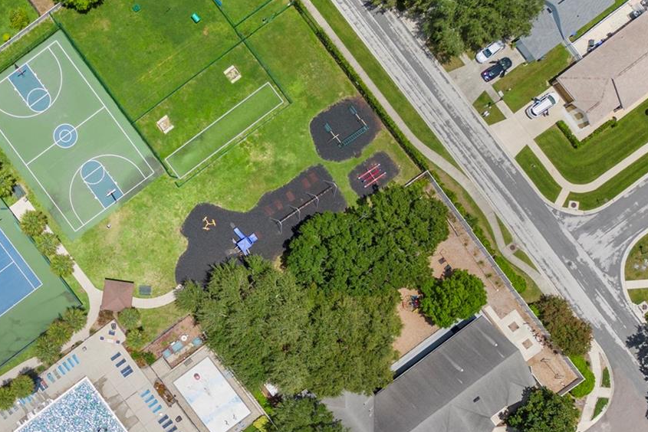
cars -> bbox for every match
[472,38,503,63]
[479,57,510,81]
[525,93,556,117]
